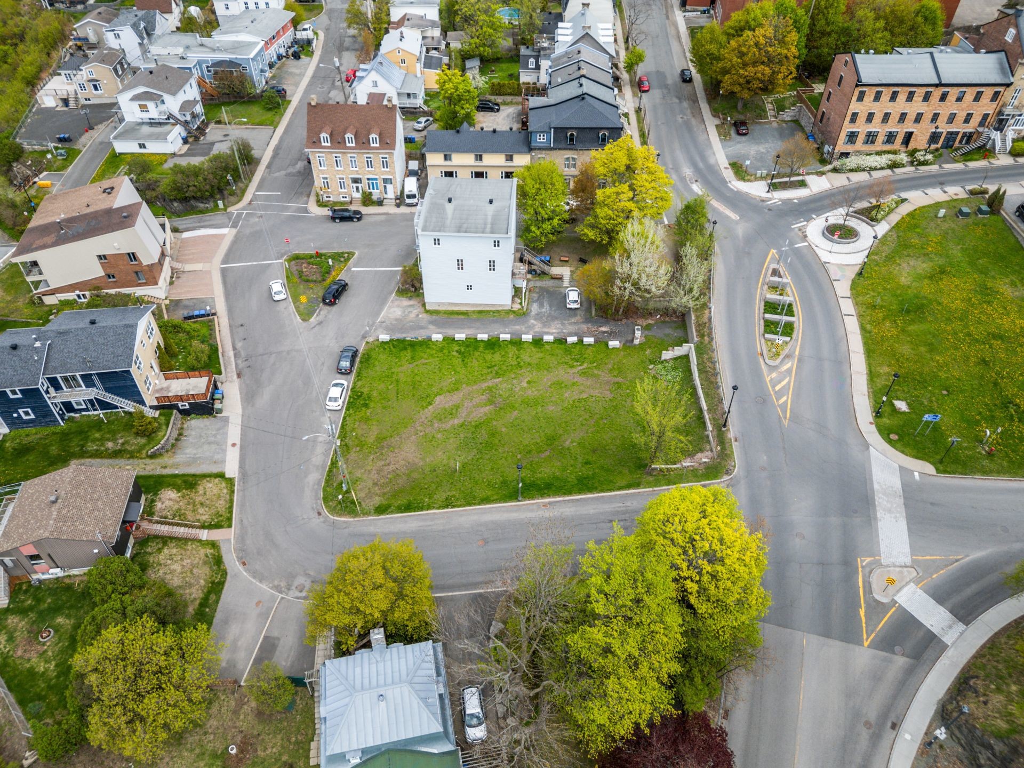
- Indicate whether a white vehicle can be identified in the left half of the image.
Yes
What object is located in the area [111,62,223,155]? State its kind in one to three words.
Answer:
house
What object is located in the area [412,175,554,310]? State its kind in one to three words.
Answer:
house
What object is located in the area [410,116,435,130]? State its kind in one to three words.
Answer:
car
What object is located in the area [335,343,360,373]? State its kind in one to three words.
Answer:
car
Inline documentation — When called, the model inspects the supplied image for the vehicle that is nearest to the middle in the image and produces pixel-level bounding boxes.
[564,285,582,310]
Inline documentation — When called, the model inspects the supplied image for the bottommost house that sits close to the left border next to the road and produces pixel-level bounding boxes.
[0,459,208,583]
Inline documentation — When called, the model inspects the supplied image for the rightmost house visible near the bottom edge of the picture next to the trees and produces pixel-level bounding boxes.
[321,627,466,768]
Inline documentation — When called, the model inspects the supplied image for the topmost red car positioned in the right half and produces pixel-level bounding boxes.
[638,76,651,89]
